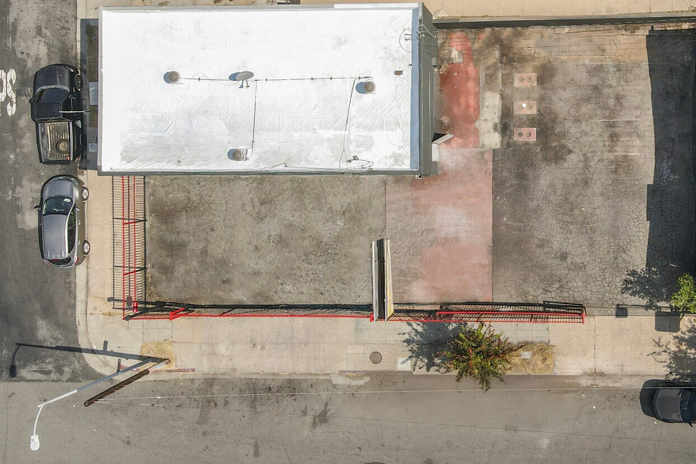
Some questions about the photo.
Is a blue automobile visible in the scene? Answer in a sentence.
No, I can see no blue automobile in this picture.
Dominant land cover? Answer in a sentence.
For the most part, this view shows paved ground.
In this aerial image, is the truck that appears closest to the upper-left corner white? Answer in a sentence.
No, the color of the truck that appears closest to the upper-left corner is black.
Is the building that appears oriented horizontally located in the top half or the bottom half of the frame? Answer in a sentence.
The building that appears oriented horizontally sits in the top half of the picture.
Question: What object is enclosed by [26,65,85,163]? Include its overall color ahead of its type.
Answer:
black truck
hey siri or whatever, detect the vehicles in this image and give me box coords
[652,381,696,428]
[32,176,91,268]
[26,65,85,163]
